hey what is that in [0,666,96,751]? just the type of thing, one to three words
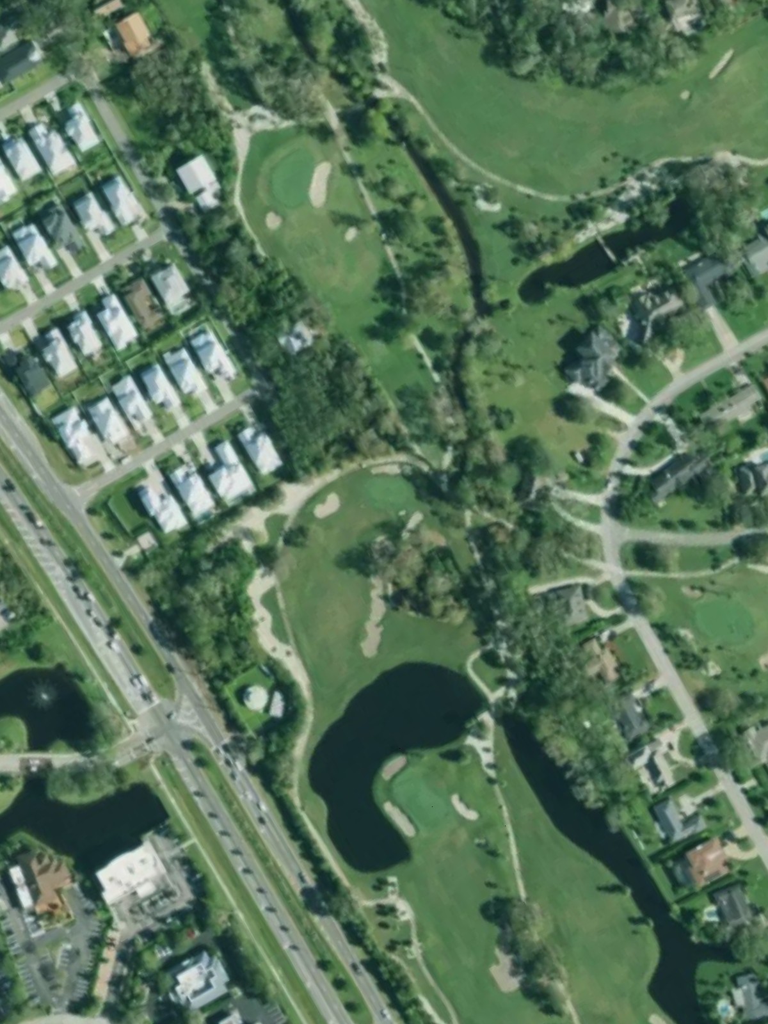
pond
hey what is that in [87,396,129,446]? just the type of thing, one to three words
house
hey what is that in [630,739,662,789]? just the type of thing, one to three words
house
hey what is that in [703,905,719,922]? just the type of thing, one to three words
swimming pool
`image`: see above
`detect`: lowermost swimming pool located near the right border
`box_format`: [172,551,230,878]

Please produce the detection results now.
[718,998,734,1023]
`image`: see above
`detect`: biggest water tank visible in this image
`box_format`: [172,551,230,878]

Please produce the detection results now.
[243,685,269,710]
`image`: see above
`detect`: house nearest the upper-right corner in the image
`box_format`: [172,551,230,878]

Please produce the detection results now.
[668,0,699,33]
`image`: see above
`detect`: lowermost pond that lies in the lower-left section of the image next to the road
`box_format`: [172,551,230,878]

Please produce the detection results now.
[0,774,168,884]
